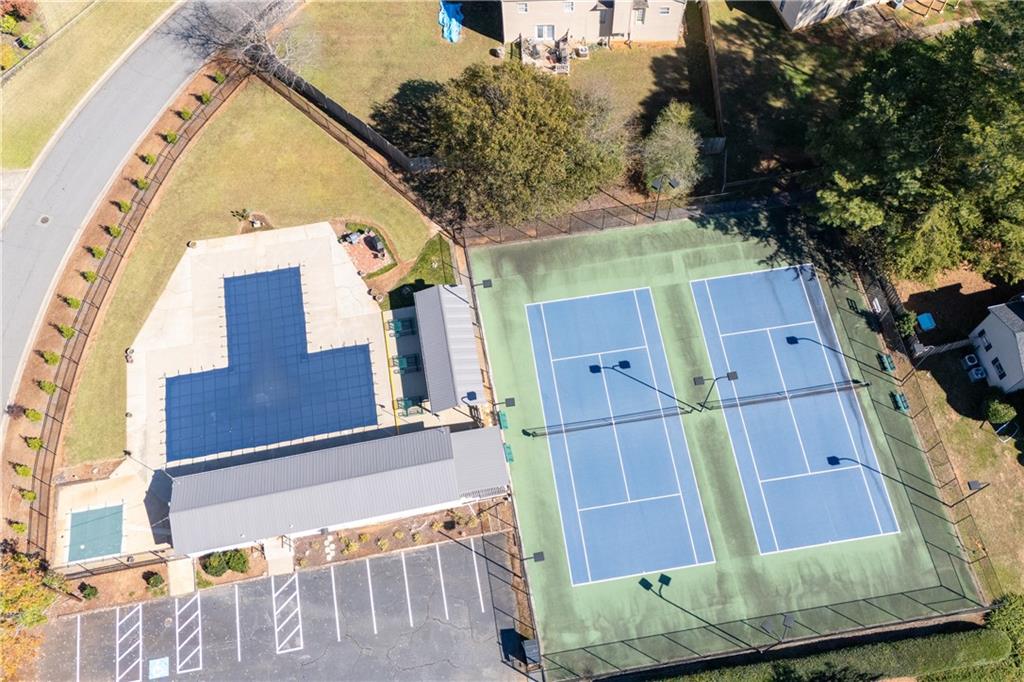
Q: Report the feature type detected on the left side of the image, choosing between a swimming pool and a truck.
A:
swimming pool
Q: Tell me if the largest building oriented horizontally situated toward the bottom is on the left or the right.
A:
left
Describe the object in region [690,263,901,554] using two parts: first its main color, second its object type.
blue tennis court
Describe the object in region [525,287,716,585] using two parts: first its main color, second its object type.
blue tennis court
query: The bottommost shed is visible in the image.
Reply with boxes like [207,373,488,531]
[518,638,545,673]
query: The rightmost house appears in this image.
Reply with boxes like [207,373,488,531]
[970,299,1024,394]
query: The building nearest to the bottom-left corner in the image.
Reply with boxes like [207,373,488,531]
[170,425,463,556]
